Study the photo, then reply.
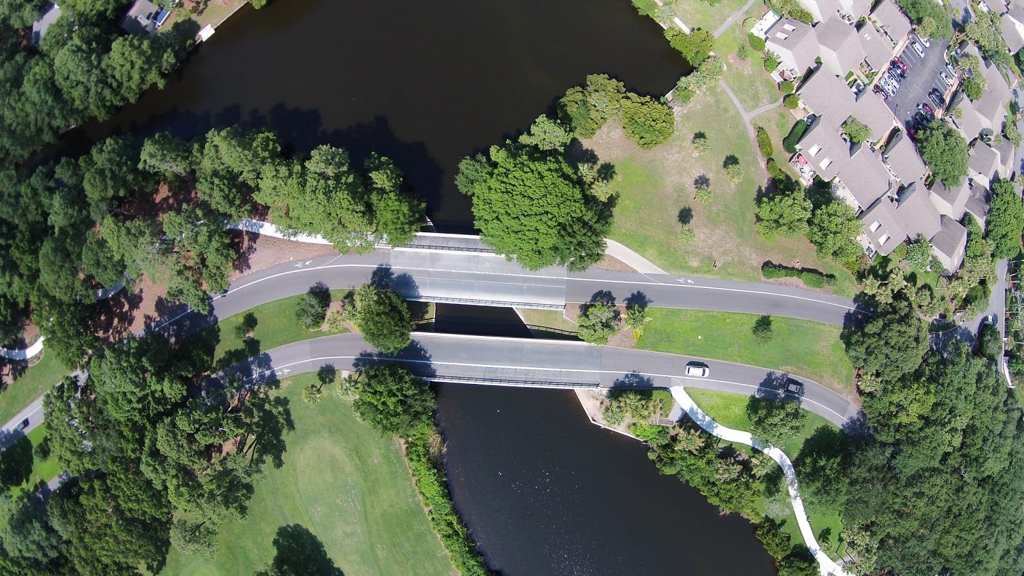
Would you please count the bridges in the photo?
2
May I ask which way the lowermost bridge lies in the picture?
from left to right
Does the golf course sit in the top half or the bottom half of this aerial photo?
bottom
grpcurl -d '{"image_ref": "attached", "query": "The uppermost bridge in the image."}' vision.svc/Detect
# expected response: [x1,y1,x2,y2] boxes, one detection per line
[380,234,605,310]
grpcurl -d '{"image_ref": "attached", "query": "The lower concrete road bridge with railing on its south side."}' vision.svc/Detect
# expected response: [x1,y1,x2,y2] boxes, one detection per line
[409,332,602,390]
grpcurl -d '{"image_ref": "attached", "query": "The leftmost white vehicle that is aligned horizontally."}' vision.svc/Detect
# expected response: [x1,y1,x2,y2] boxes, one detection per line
[685,364,710,376]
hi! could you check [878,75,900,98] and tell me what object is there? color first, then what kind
white car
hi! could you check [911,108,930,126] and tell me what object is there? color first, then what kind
black car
